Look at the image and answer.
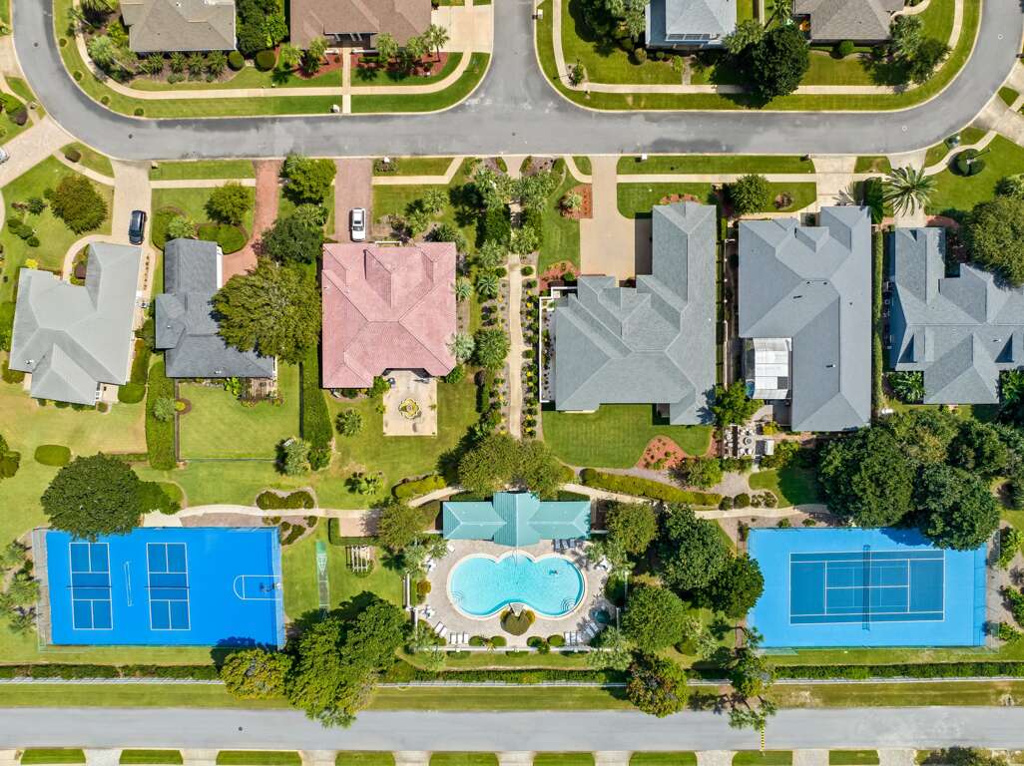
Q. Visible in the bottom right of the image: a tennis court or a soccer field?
tennis court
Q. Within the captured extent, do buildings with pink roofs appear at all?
Yes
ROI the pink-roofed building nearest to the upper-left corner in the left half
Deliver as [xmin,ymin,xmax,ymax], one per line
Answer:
[322,240,456,388]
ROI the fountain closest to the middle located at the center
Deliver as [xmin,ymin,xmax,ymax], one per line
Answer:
[400,398,420,418]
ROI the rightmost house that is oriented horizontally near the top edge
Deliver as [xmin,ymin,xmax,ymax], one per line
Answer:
[792,0,904,45]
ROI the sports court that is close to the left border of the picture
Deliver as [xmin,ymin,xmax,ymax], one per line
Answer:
[46,527,285,648]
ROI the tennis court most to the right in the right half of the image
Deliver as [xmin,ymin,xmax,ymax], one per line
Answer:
[748,528,988,648]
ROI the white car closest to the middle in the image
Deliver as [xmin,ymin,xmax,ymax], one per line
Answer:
[350,207,365,240]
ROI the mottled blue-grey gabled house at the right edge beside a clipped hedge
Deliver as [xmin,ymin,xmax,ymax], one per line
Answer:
[887,227,1024,419]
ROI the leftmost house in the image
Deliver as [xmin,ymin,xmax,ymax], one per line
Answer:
[9,242,148,406]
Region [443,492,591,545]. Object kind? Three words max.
building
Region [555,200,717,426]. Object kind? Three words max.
house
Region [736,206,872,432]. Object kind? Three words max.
house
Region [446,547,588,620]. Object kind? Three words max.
swimming pool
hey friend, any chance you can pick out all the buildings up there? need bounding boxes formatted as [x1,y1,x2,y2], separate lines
[887,227,1024,419]
[792,0,904,45]
[155,236,279,380]
[443,492,591,545]
[322,240,456,388]
[736,206,872,432]
[9,242,148,406]
[290,0,431,55]
[647,0,736,51]
[120,0,240,56]
[555,200,717,426]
